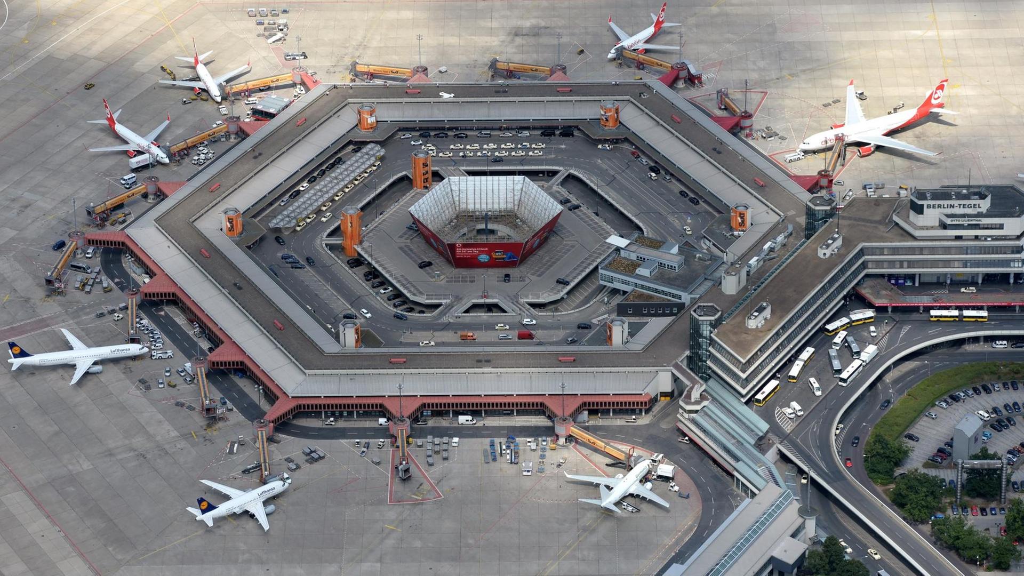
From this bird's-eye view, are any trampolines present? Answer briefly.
No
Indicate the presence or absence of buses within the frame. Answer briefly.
Yes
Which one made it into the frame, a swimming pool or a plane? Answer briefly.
plane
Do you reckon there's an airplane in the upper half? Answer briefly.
Yes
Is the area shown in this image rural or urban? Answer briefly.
urban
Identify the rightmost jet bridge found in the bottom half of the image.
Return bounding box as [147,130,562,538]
[566,425,637,474]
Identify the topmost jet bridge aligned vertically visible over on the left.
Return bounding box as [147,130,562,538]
[126,297,141,345]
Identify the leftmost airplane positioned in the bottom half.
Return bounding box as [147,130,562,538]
[9,328,149,386]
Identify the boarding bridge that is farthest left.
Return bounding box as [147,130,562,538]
[45,239,80,285]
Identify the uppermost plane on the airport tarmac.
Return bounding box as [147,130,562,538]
[604,2,683,61]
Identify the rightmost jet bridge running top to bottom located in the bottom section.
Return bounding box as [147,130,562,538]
[395,428,413,476]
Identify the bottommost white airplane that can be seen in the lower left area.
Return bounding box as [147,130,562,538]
[182,478,289,529]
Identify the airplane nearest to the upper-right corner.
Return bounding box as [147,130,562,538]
[798,80,959,157]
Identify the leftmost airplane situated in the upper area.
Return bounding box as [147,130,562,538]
[88,102,174,165]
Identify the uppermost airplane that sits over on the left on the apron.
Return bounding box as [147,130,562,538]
[157,39,252,104]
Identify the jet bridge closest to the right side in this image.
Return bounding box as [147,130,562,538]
[824,130,848,173]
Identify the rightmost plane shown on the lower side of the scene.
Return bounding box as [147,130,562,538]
[566,459,672,517]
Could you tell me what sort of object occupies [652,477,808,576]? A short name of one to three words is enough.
building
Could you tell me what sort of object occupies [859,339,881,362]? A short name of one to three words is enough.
truck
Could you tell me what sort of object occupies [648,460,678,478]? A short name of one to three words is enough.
vehicle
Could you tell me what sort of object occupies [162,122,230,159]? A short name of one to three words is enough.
jet bridge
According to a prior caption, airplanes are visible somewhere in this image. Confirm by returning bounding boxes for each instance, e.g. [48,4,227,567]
[798,80,959,157]
[88,102,174,165]
[604,2,683,61]
[566,459,672,517]
[182,478,289,529]
[9,328,149,386]
[157,39,252,104]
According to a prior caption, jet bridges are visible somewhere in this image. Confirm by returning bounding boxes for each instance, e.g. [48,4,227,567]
[162,122,230,159]
[221,71,296,103]
[715,88,745,117]
[86,183,149,219]
[256,429,274,485]
[347,64,413,84]
[126,297,141,345]
[616,47,673,74]
[196,367,217,418]
[486,62,552,83]
[824,130,848,173]
[45,239,80,285]
[566,425,637,474]
[395,428,413,476]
